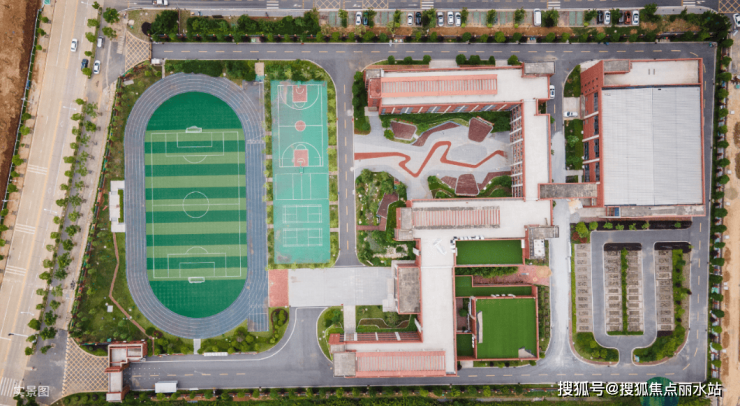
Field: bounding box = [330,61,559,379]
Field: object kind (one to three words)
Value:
building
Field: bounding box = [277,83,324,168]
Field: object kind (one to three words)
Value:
basketball court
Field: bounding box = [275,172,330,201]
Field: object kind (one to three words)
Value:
sports court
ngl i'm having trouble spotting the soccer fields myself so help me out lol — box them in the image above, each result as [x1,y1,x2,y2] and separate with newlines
[145,93,248,317]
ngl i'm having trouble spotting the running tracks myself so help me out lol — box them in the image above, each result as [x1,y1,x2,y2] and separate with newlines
[124,72,270,338]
